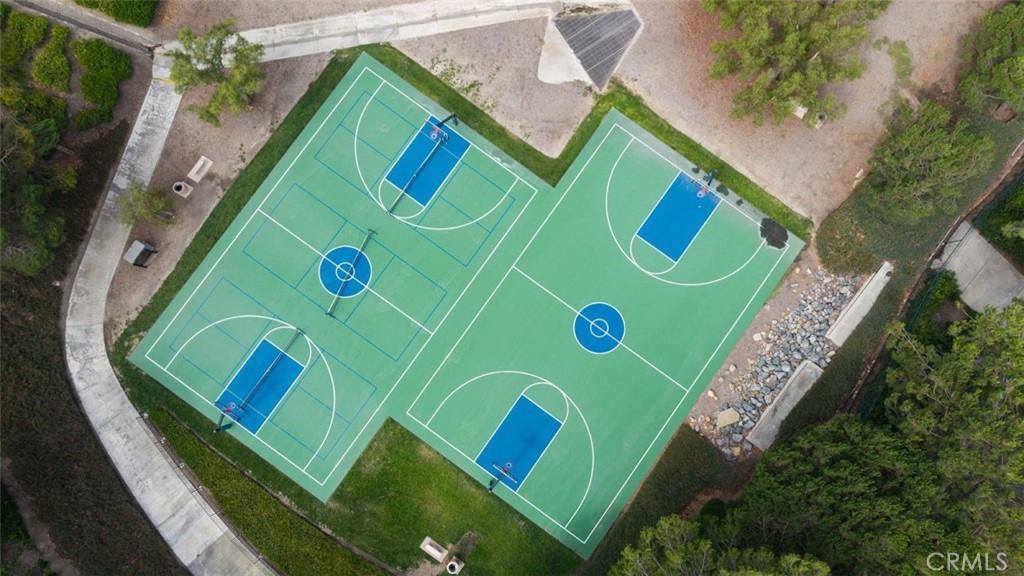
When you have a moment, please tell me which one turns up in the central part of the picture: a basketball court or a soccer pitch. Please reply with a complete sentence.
Visible in the central part of the picture is a basketball court.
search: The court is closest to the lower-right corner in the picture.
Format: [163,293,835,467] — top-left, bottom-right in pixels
[389,107,805,559]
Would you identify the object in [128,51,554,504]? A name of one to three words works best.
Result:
basketball court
